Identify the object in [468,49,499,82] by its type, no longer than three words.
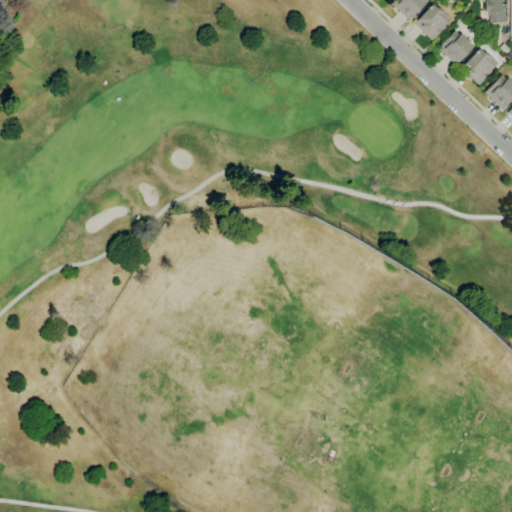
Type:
house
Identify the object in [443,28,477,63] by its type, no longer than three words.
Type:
house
